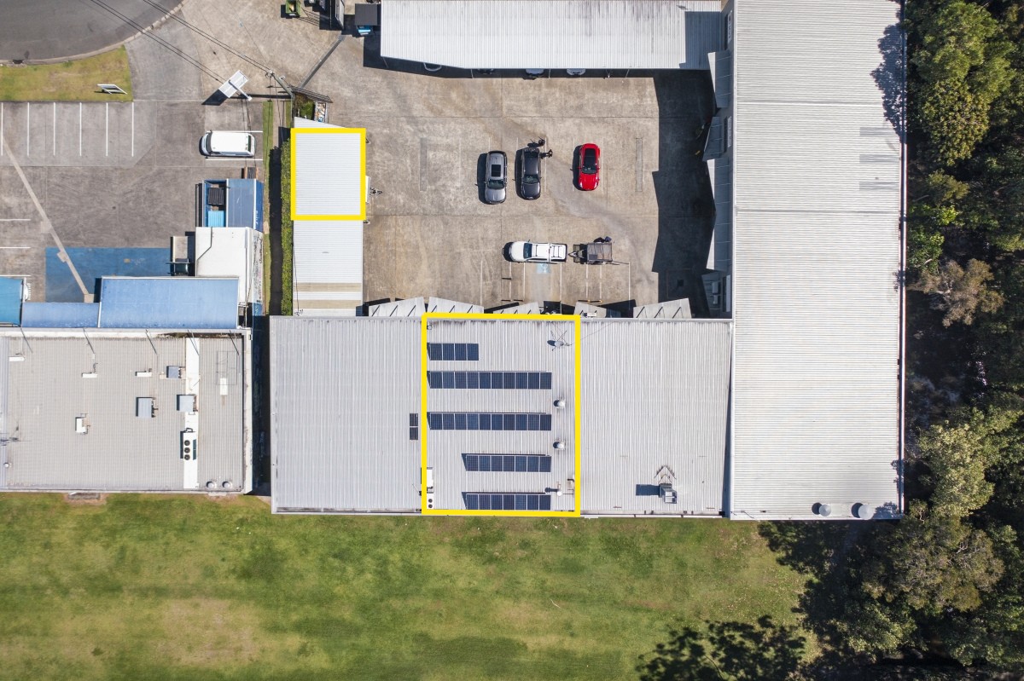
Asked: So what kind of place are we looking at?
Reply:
industrial area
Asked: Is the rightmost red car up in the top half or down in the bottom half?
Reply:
top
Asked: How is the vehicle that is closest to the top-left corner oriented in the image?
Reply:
from side to side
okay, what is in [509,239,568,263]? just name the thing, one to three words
car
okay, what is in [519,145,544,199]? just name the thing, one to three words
car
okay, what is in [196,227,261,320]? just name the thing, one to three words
building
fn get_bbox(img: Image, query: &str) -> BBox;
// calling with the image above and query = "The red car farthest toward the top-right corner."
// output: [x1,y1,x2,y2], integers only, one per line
[578,141,603,190]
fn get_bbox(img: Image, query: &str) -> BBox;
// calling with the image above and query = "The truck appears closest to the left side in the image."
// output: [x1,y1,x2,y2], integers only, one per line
[162,231,191,277]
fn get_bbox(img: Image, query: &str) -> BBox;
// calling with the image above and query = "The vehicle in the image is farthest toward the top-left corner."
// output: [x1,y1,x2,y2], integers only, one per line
[198,129,254,155]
